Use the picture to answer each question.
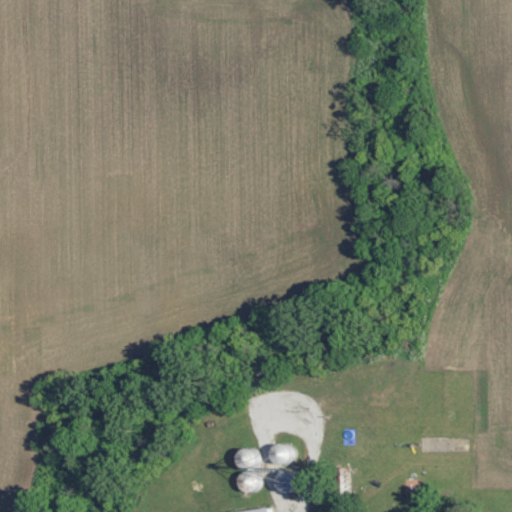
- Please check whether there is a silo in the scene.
Yes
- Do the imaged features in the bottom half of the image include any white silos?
Yes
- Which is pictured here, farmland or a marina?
farmland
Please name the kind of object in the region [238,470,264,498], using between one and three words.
silo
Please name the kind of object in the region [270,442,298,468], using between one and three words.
silo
